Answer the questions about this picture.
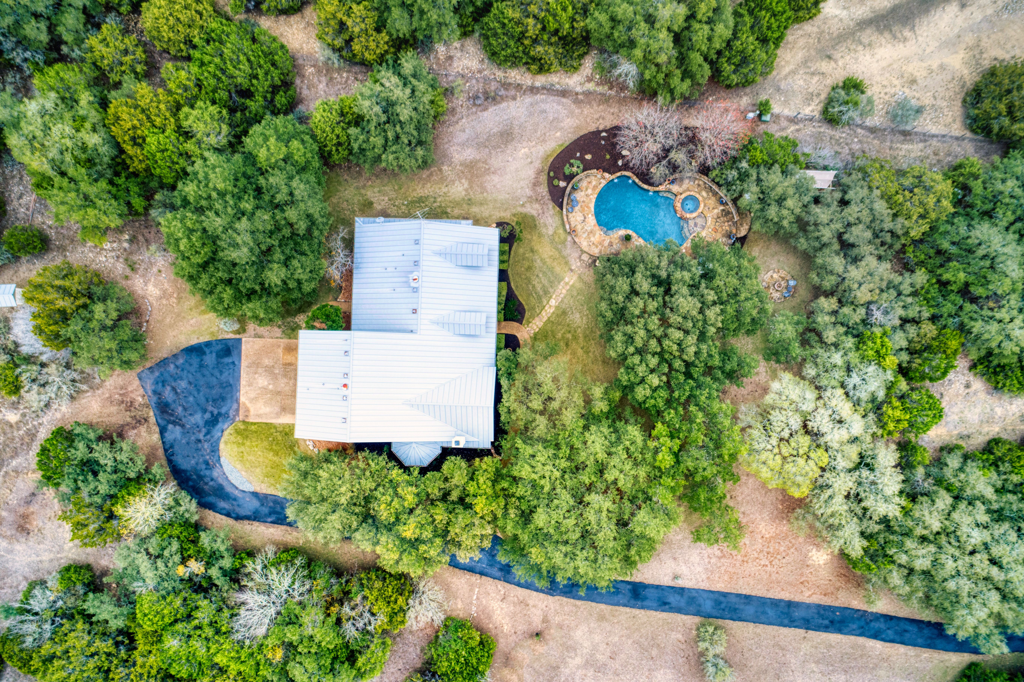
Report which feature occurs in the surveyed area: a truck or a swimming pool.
swimming pool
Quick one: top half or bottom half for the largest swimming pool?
top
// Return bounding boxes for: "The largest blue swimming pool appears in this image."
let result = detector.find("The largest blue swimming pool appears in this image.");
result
[591,170,709,256]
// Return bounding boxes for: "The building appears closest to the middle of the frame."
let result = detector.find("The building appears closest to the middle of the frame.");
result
[294,208,502,467]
